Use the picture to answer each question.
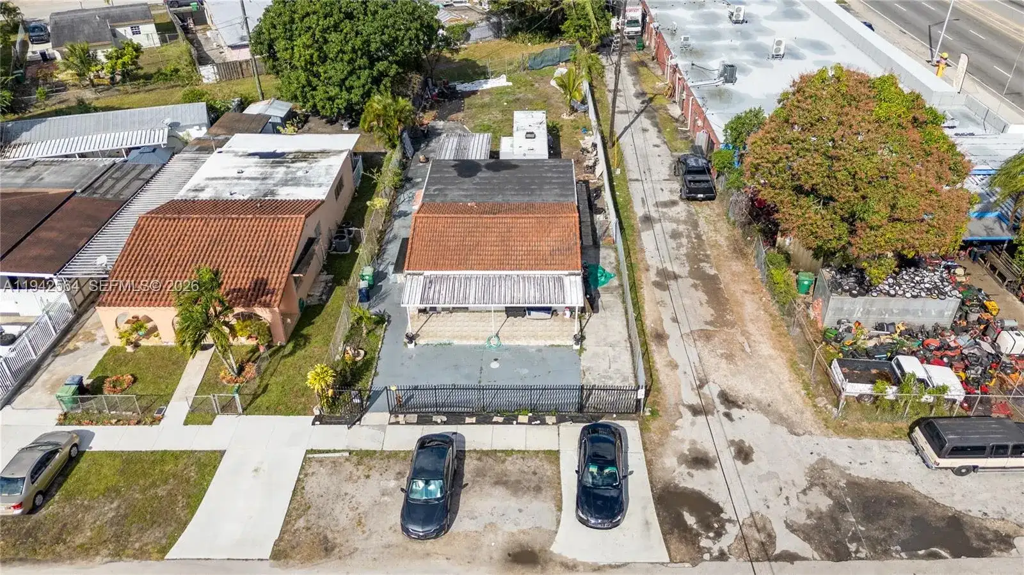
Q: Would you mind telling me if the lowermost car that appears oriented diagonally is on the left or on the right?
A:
left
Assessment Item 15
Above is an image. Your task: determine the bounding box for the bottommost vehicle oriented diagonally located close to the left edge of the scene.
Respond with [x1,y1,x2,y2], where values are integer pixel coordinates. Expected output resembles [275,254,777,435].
[0,429,73,516]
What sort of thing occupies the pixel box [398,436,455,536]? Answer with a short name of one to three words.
car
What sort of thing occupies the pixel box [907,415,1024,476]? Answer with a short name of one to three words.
car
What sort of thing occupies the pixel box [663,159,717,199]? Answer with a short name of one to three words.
truck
